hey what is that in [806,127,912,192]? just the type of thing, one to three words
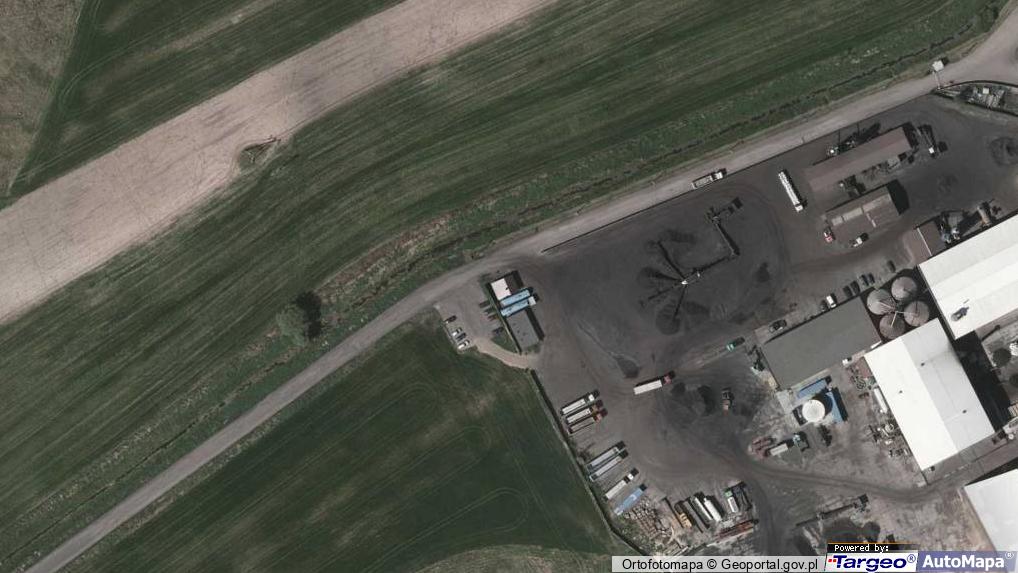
shed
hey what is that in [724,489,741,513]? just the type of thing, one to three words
vehicle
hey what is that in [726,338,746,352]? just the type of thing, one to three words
vehicle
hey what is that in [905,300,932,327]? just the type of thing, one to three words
silo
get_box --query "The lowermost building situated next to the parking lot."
[508,311,539,350]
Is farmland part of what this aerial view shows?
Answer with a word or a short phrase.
Yes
